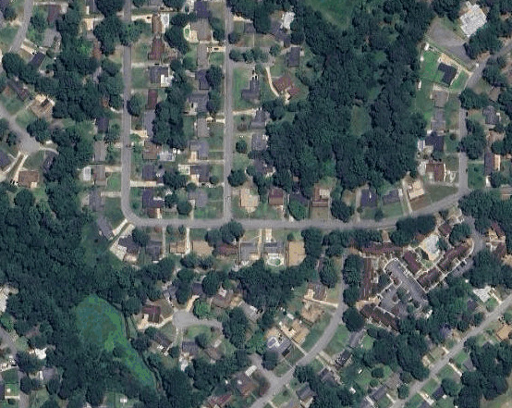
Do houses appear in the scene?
Yes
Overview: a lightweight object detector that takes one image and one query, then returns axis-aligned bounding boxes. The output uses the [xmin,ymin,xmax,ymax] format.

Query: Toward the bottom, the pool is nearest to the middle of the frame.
[267,254,284,267]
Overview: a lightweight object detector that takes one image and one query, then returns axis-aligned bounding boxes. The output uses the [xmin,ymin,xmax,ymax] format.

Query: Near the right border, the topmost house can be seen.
[459,5,490,34]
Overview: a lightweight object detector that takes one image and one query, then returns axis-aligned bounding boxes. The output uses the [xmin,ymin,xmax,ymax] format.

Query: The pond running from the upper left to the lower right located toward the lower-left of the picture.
[77,295,155,388]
